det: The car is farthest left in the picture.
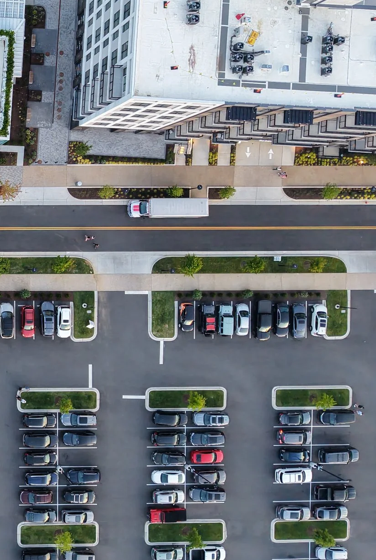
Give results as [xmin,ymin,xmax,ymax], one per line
[0,302,16,338]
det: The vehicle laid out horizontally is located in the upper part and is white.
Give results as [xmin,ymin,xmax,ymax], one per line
[122,197,209,218]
